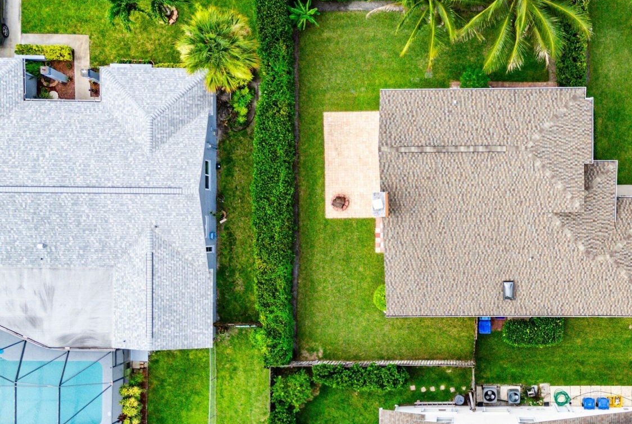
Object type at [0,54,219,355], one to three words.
house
